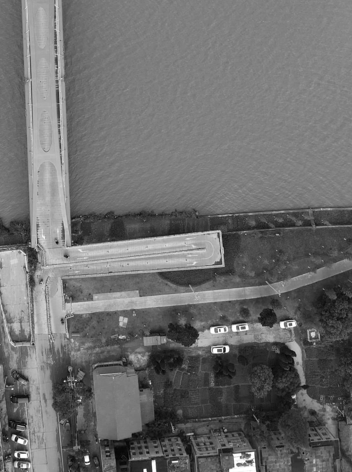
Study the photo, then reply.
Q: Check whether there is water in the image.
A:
Yes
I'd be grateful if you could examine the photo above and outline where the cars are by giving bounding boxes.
[91,453,100,472]
[82,452,91,467]
[211,344,229,354]
[10,421,27,431]
[210,325,228,333]
[13,460,31,470]
[279,319,297,329]
[14,450,29,459]
[12,370,29,386]
[11,394,30,404]
[231,323,249,332]
[11,434,29,446]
